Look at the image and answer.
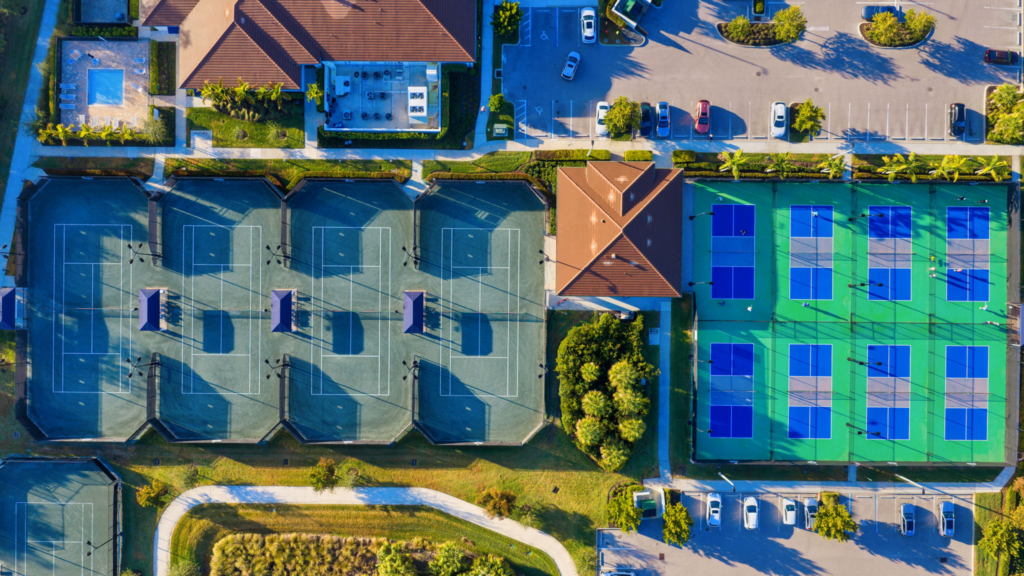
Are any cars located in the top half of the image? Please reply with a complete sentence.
Yes, I can see a car in the top half of the image.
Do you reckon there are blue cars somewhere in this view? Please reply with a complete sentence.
Yes, a blue car can be made out from above.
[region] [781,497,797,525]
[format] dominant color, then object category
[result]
white car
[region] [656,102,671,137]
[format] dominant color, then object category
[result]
blue car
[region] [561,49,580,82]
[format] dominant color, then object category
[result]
blue car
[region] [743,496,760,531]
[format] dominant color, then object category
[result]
white car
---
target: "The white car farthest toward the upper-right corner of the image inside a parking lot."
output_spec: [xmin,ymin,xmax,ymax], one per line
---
[770,101,787,138]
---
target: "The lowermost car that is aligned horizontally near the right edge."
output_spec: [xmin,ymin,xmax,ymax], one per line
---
[983,48,1018,64]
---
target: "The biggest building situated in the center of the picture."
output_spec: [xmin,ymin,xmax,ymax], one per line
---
[555,161,683,297]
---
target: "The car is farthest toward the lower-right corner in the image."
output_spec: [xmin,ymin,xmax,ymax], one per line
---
[937,501,955,537]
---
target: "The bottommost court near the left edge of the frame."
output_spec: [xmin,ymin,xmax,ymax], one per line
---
[0,459,116,576]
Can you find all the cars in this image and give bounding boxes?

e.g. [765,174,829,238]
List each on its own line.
[897,502,915,537]
[802,497,820,531]
[595,101,611,136]
[743,496,760,531]
[770,101,787,138]
[656,102,671,137]
[983,48,1018,64]
[638,102,654,137]
[695,99,711,134]
[561,49,580,82]
[860,4,897,21]
[781,497,797,525]
[948,103,966,137]
[937,501,955,537]
[706,492,723,527]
